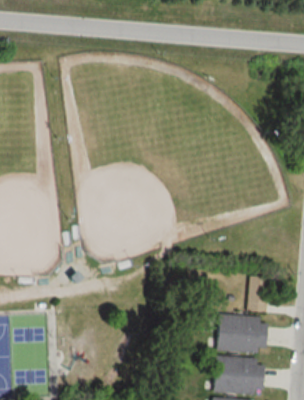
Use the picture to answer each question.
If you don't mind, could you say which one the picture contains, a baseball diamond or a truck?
baseball diamond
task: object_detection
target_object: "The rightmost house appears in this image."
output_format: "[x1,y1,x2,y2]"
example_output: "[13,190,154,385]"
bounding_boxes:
[248,276,270,312]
